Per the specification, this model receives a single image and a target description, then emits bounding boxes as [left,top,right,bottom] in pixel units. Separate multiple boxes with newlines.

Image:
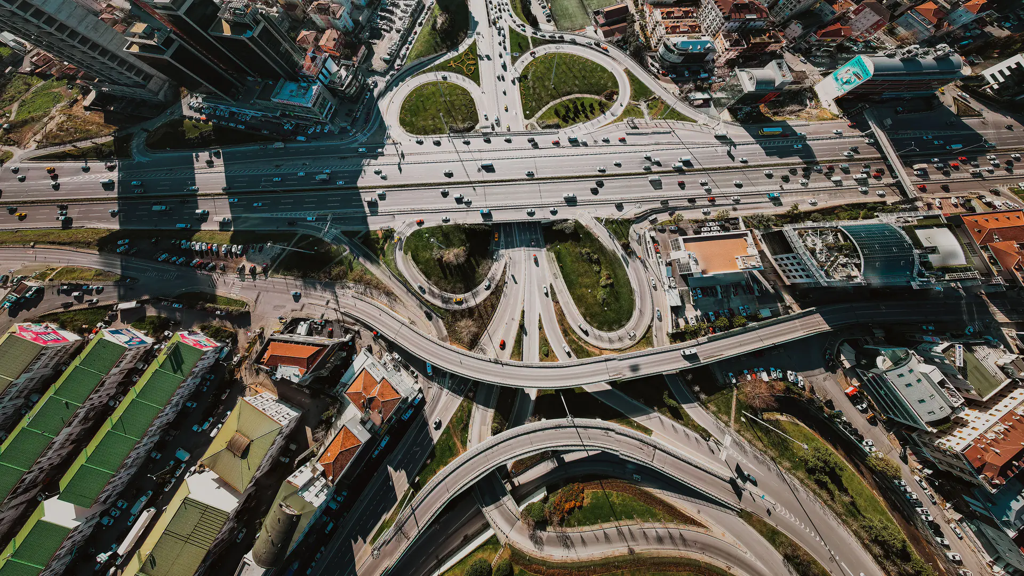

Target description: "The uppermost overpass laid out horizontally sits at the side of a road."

[266,287,1024,390]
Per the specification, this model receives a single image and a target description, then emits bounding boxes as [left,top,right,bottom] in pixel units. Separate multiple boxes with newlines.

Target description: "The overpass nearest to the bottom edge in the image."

[347,415,857,576]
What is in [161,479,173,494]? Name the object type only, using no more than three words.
vehicle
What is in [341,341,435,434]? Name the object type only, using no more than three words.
house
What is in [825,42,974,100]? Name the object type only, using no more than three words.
building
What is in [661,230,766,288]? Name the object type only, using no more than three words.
building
